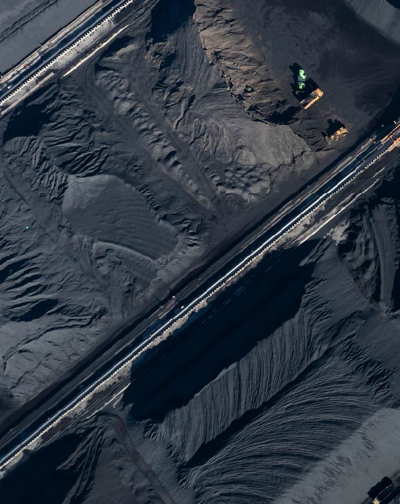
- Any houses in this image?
No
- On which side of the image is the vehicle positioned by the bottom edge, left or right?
right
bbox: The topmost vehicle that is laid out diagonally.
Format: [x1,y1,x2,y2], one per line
[301,88,323,111]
